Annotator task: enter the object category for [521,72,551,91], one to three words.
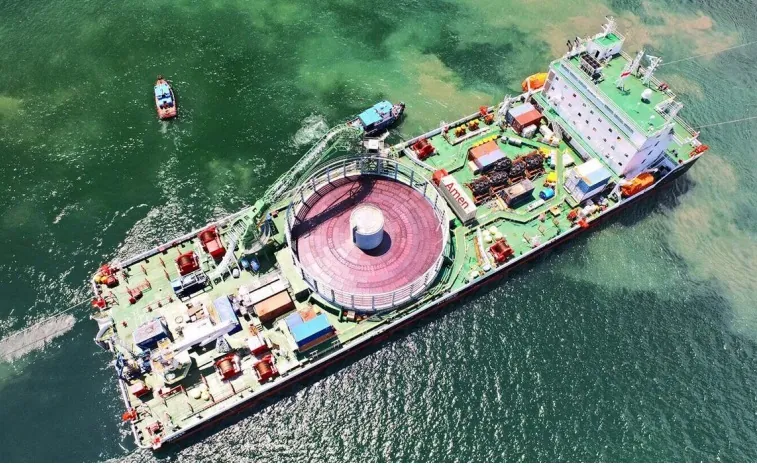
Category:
boat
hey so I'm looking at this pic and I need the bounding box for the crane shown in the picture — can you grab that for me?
[146,317,244,382]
